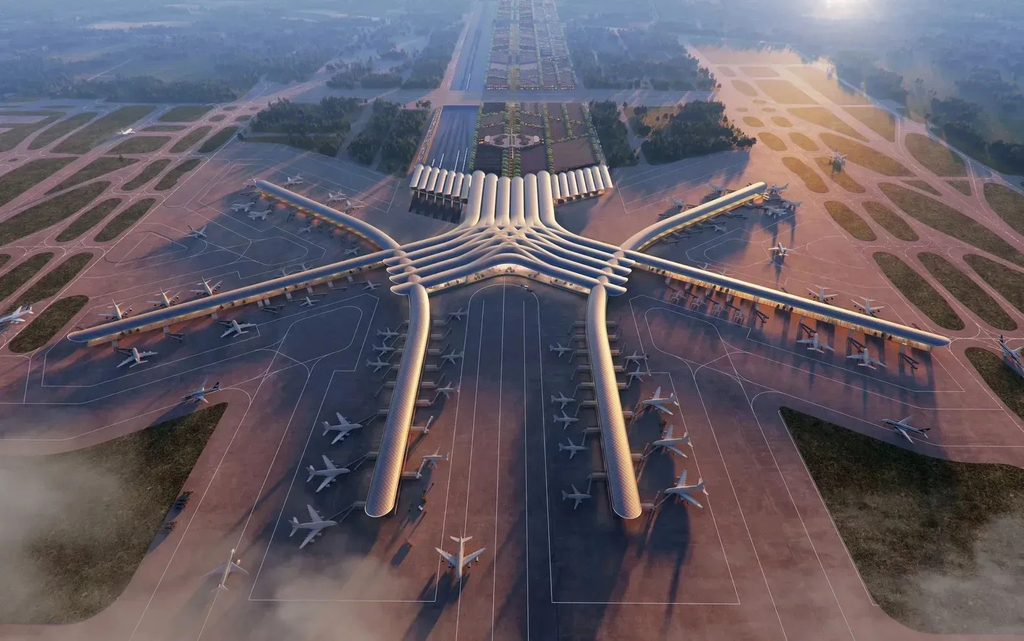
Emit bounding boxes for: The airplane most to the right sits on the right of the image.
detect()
[991,339,1024,367]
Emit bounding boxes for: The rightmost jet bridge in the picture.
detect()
[901,342,920,367]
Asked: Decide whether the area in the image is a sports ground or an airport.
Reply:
airport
